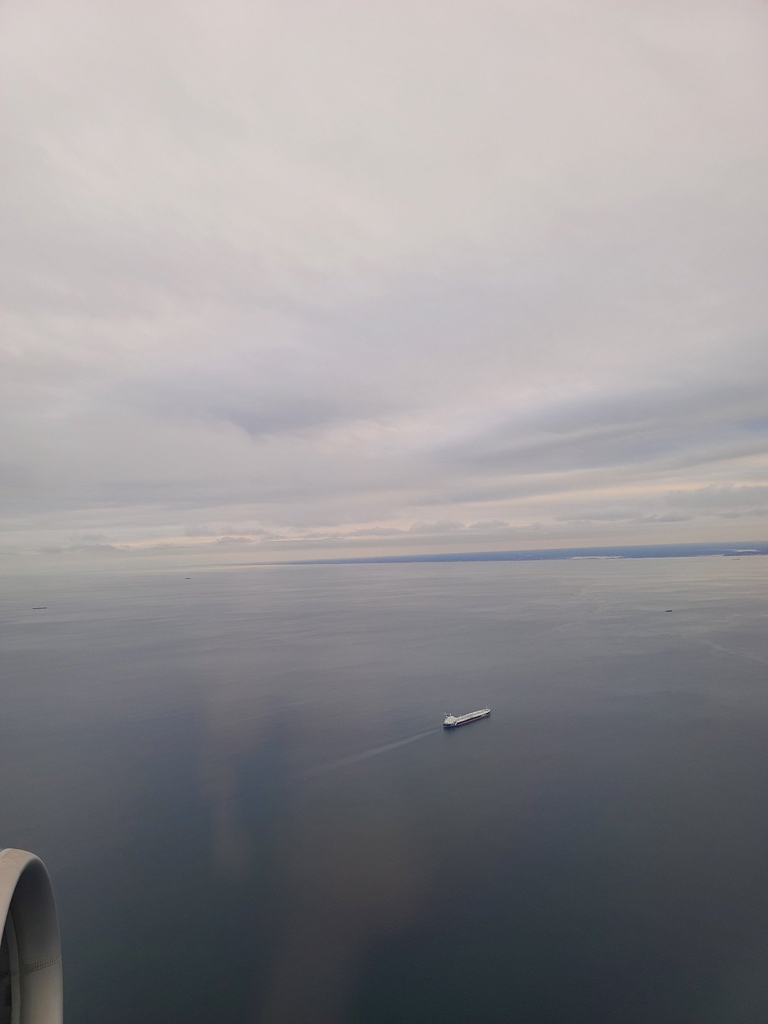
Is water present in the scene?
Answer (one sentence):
Yes, there's water in this view.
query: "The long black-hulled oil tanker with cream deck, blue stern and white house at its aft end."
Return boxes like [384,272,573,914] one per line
[442,706,492,726]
